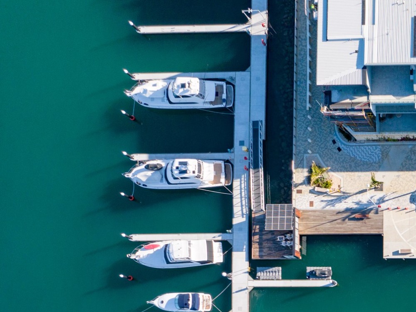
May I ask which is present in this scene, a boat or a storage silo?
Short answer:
boat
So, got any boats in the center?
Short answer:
Yes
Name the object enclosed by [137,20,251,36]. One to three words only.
pier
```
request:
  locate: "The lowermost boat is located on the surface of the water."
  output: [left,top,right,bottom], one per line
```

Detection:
[142,283,231,312]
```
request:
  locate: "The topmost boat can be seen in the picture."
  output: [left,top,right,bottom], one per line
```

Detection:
[124,77,235,114]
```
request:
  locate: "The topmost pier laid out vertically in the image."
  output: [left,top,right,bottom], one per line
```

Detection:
[250,0,268,140]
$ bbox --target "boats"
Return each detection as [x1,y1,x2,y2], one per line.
[313,269,335,277]
[142,283,231,312]
[127,239,228,267]
[123,159,233,202]
[124,77,235,114]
